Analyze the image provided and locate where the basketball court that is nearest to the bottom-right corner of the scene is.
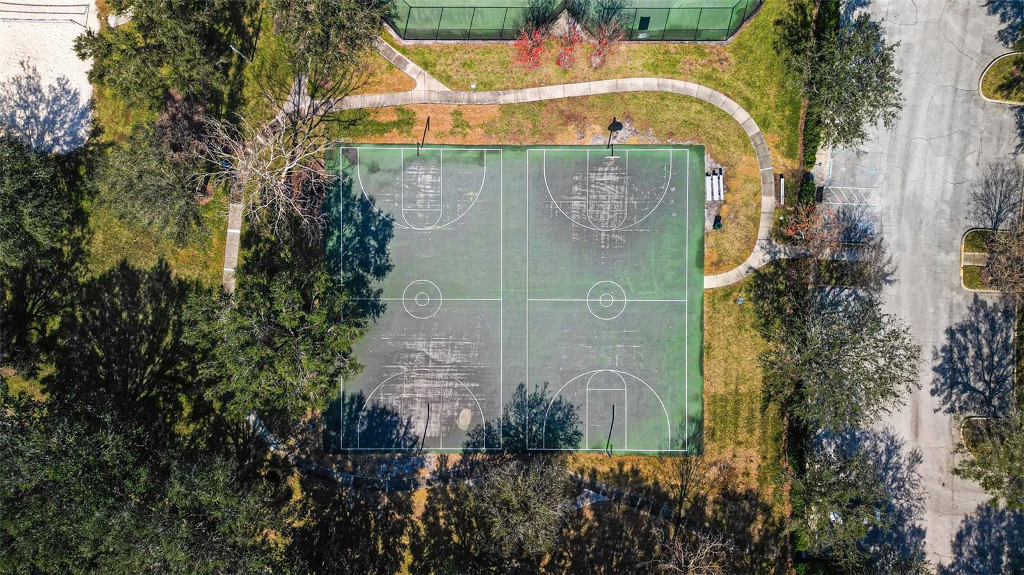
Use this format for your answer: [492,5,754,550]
[514,144,704,456]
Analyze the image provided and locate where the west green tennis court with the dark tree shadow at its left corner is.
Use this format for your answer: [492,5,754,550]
[360,0,566,40]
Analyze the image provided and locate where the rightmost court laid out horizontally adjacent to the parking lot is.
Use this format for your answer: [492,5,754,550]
[566,0,766,40]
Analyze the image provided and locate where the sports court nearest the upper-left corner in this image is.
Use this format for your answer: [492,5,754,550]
[0,0,99,154]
